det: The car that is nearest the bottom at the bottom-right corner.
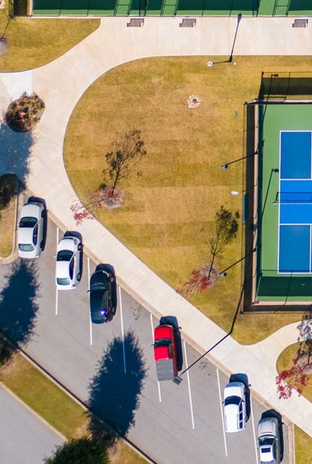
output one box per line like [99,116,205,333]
[255,416,282,464]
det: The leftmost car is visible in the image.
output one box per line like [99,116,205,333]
[19,203,49,258]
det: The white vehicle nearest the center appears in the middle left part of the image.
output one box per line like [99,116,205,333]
[53,237,84,290]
